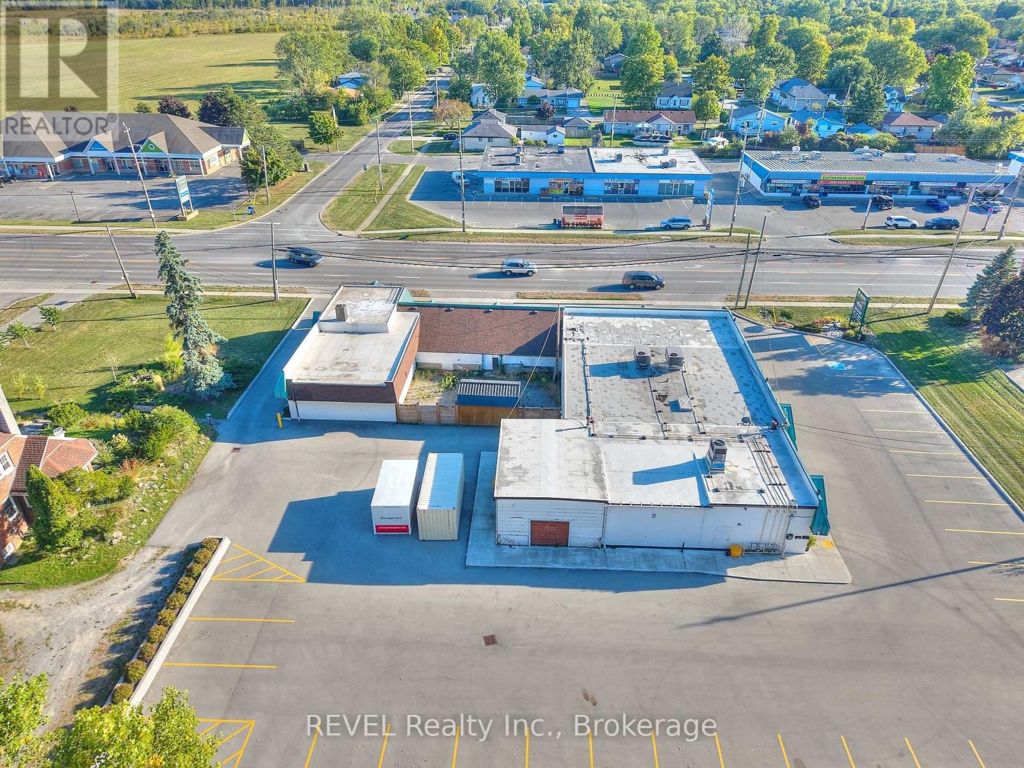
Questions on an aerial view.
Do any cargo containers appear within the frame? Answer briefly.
Yes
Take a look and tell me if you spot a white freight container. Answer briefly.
Yes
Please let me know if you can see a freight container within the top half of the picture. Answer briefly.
No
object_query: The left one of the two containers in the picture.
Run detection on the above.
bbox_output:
[370,459,424,535]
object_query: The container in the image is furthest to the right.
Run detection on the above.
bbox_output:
[417,451,467,538]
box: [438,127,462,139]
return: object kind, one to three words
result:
vehicle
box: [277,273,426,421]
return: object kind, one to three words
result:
building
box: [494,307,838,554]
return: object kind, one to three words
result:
building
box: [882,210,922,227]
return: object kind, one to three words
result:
car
